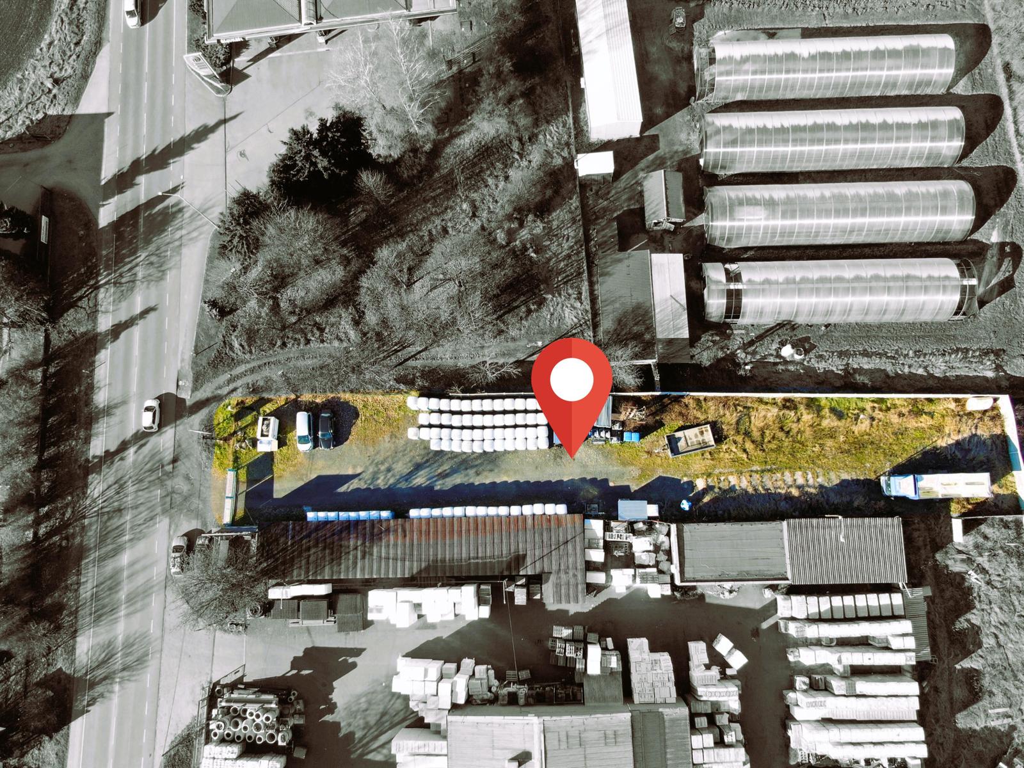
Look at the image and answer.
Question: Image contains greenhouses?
Yes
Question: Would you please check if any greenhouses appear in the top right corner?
Yes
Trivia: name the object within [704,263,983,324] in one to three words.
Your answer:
greenhouse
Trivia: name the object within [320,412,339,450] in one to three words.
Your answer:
car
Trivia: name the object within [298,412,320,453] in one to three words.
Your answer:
vehicle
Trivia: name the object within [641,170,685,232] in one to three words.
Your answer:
shed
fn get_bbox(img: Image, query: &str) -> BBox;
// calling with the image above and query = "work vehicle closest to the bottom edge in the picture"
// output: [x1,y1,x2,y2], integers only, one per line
[710,658,728,674]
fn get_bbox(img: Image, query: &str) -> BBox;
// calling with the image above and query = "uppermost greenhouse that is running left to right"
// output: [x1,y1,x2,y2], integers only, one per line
[695,36,963,101]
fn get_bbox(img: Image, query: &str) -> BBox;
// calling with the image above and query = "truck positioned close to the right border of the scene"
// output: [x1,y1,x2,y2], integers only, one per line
[872,472,991,498]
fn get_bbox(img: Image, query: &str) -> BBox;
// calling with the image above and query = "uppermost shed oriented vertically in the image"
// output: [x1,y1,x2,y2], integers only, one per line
[573,0,643,137]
